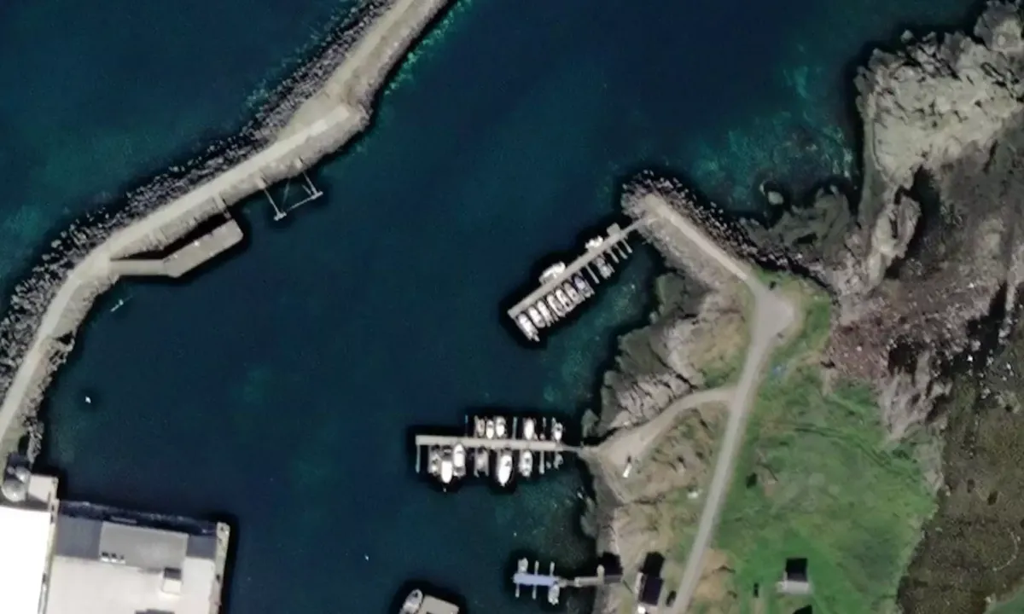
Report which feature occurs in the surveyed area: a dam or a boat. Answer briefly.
boat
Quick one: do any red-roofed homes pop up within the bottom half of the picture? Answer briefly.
No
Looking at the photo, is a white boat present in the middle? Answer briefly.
Yes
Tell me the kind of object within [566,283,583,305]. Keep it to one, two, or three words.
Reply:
boat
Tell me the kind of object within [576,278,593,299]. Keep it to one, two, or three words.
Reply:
boat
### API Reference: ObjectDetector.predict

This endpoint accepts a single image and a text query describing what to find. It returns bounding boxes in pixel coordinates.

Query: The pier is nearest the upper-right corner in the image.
[622,171,793,299]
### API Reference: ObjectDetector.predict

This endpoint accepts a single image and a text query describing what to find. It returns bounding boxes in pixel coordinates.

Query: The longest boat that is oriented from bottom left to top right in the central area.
[539,264,565,284]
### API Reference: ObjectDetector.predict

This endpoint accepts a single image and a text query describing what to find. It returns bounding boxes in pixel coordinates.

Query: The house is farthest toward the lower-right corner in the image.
[780,573,809,595]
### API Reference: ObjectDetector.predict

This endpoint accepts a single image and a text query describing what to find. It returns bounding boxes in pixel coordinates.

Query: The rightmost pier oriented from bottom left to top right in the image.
[508,212,656,340]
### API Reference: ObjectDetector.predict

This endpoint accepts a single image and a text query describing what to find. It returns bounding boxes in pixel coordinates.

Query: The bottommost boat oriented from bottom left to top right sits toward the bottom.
[398,587,421,614]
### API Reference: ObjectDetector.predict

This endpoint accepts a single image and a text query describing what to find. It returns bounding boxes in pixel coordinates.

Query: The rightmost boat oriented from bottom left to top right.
[585,237,601,250]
